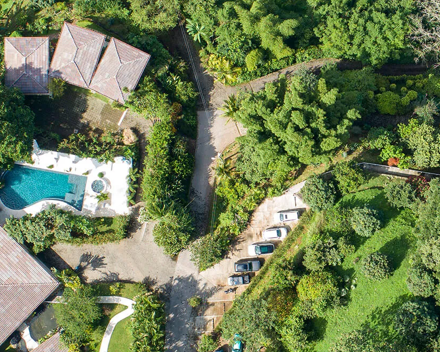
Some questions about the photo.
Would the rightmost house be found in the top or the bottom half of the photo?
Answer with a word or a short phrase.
top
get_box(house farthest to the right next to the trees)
[90,38,149,104]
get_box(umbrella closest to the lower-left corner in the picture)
[83,198,97,213]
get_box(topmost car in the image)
[273,210,299,222]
